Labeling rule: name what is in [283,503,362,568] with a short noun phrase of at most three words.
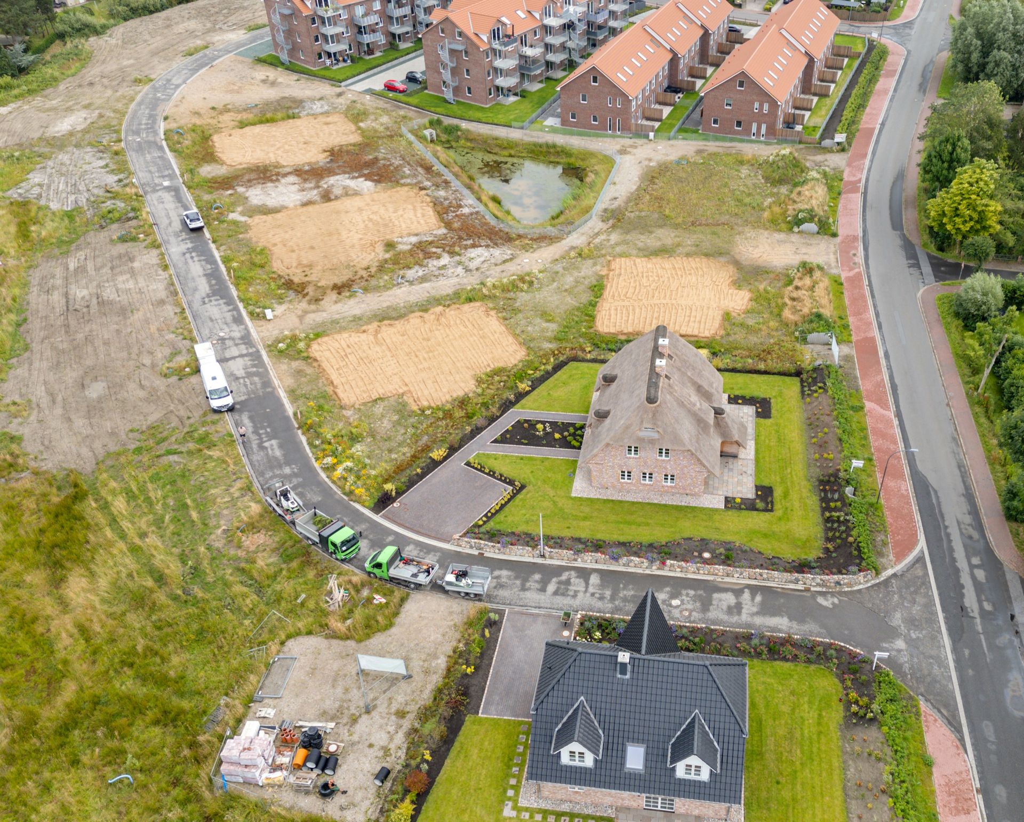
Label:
truck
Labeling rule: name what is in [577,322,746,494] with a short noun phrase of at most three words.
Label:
house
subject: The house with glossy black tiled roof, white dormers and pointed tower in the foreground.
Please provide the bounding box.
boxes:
[526,586,746,822]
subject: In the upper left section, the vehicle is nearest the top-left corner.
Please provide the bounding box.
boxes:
[181,211,205,233]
